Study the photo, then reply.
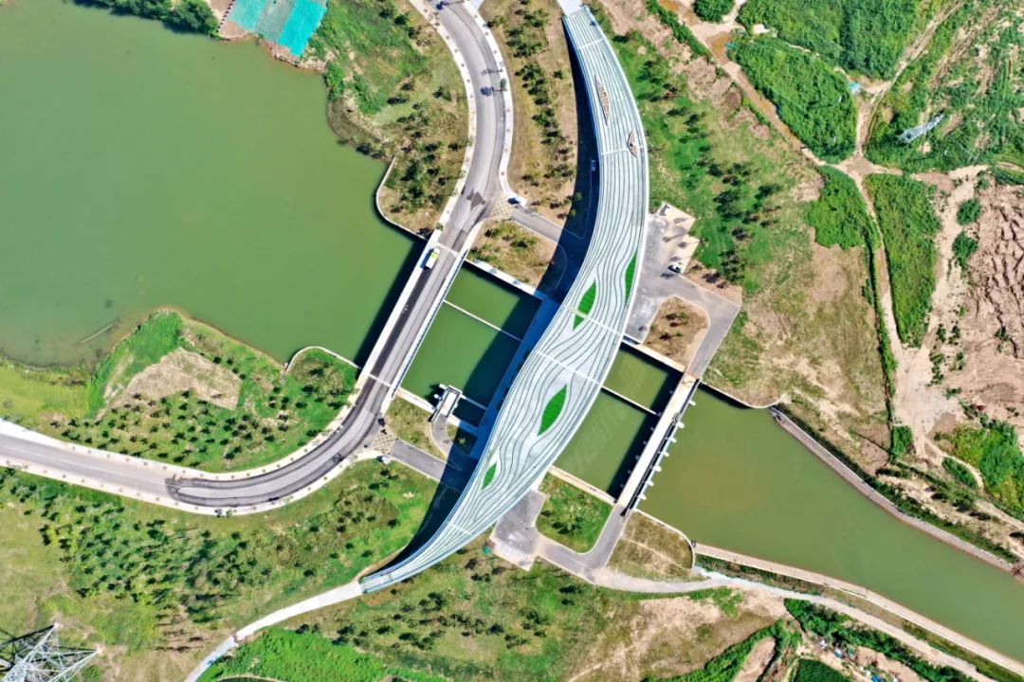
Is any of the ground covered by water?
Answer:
Yes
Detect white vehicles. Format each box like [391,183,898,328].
[671,263,682,271]
[426,249,440,269]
